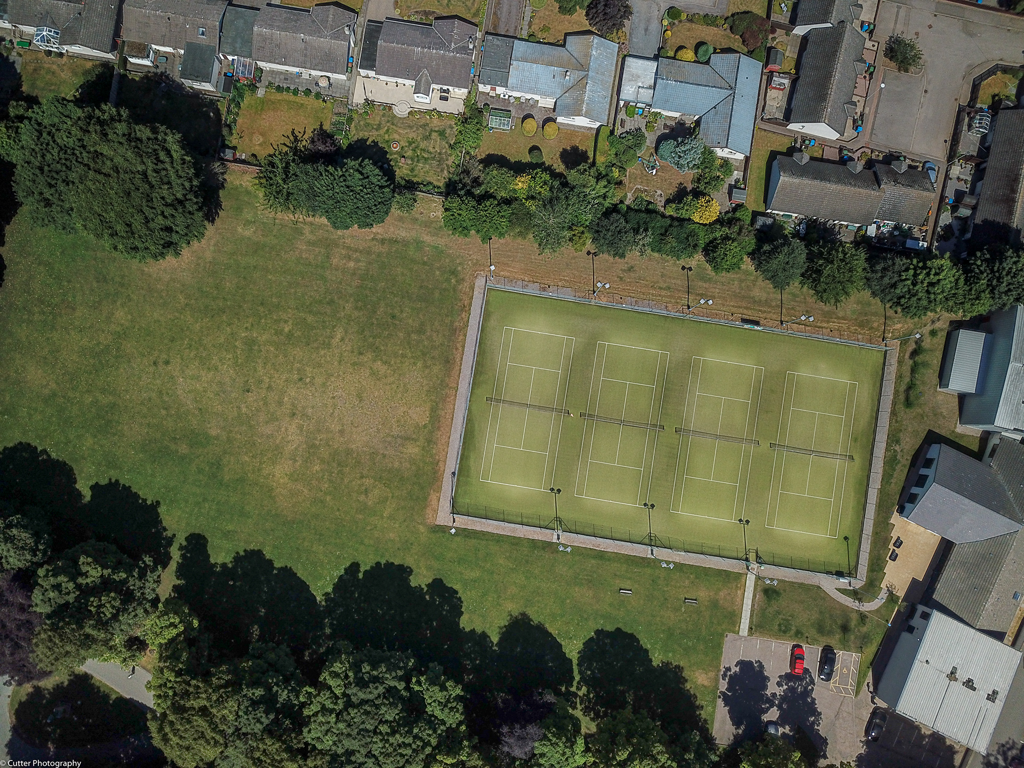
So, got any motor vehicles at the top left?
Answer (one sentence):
No, looking at the top left, there is no motor vehicle.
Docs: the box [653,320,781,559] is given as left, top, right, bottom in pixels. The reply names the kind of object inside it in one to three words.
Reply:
tennis court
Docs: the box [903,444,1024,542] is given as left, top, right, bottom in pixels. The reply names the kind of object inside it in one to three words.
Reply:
building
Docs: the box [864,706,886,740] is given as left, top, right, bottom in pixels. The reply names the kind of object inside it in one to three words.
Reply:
car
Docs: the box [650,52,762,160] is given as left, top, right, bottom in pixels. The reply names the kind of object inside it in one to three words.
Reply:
house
